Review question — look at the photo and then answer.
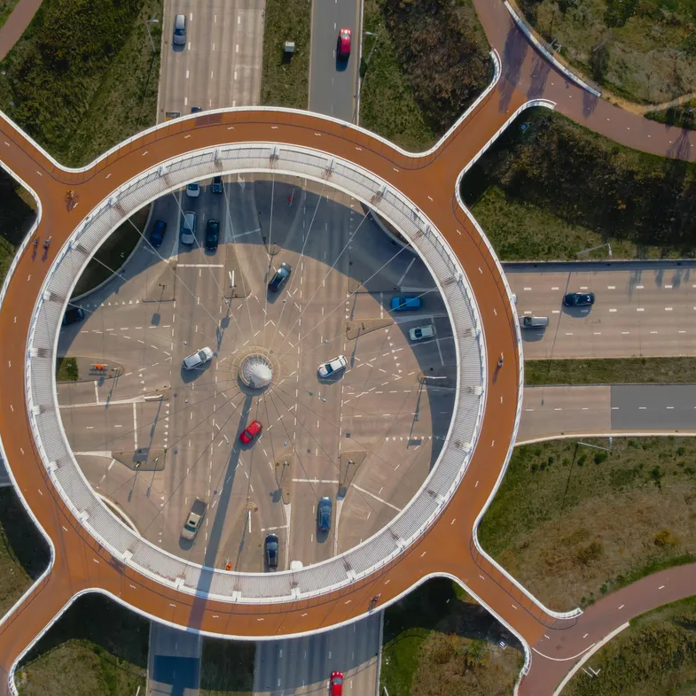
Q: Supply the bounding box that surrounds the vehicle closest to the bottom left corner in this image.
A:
[182,497,207,542]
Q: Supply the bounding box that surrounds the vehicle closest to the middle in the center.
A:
[317,355,348,378]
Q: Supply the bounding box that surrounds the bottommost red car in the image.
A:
[329,669,344,696]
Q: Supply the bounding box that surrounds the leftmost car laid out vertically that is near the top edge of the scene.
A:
[172,13,187,47]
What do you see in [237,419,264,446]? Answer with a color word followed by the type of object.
red car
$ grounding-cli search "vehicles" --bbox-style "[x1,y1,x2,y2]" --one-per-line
[289,560,301,570]
[209,178,225,196]
[150,217,167,246]
[205,218,219,250]
[185,184,201,199]
[182,346,215,370]
[318,497,334,532]
[317,355,348,378]
[181,211,196,245]
[172,13,187,47]
[390,296,421,310]
[562,291,595,307]
[65,308,86,324]
[409,326,436,340]
[266,263,290,295]
[329,669,344,696]
[521,315,547,329]
[237,419,264,446]
[337,29,351,58]
[182,497,207,542]
[264,533,279,566]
